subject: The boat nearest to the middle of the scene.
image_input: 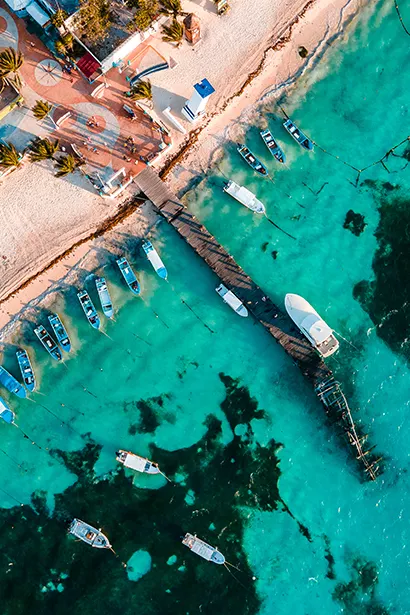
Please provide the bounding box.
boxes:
[214,283,247,316]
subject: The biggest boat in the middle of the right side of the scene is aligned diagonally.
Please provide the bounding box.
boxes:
[287,293,342,359]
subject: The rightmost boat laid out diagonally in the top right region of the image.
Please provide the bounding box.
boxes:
[283,116,315,150]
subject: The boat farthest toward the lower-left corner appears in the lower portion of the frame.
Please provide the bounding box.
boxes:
[68,521,110,550]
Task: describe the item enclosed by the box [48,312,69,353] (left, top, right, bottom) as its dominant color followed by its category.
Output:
blue boat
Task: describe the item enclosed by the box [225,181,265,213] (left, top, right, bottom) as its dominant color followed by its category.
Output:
white boat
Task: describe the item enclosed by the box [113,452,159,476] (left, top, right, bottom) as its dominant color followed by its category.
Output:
white boat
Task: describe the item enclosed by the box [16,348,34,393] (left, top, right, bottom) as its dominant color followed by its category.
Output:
blue boat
